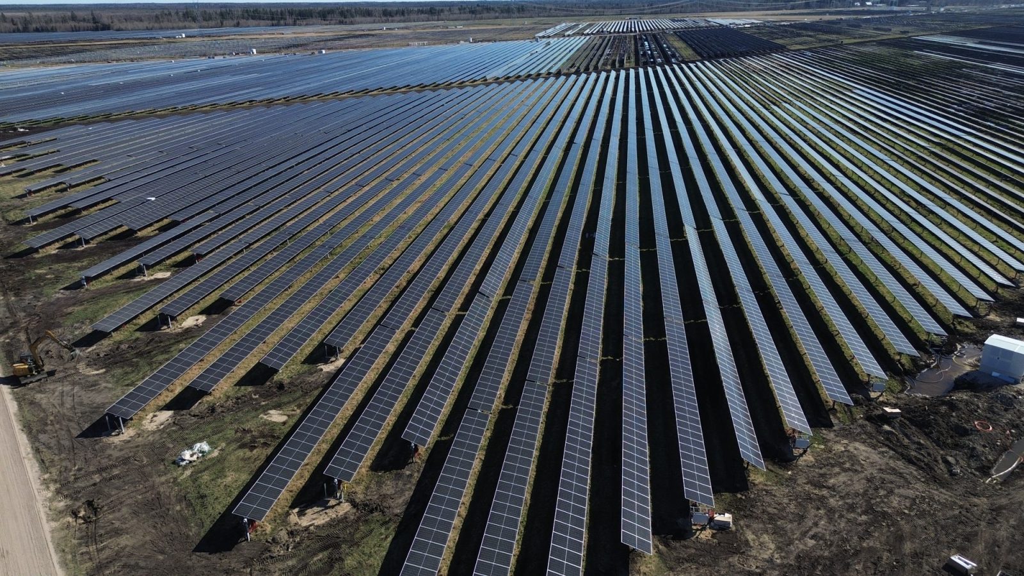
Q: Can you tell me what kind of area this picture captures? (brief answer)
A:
solar farm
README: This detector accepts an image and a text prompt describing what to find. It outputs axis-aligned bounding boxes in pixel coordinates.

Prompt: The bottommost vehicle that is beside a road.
[7,327,80,388]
